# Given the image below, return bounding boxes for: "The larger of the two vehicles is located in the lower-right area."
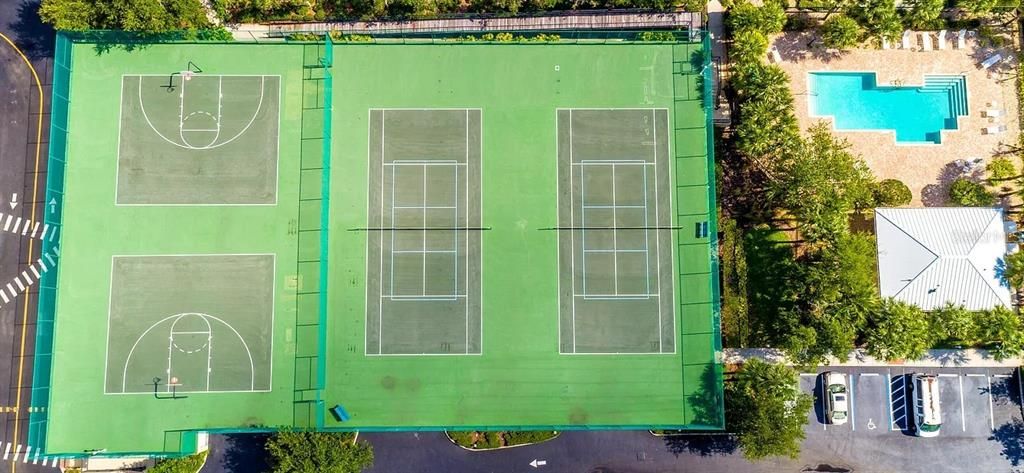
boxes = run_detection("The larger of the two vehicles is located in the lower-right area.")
[907,372,945,440]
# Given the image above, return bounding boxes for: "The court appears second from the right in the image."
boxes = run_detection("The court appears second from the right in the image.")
[365,108,482,356]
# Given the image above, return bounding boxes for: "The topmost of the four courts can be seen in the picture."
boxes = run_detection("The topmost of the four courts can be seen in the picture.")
[115,75,281,205]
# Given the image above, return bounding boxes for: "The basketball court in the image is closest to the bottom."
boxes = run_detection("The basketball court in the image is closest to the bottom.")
[104,254,276,394]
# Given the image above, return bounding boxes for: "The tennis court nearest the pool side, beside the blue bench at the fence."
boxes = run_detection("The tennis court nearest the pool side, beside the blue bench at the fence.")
[556,108,676,354]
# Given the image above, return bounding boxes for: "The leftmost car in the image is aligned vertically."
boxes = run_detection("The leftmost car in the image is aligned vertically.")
[822,371,849,425]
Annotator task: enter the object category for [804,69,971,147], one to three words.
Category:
swimming pool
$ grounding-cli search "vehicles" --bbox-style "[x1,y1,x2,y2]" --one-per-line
[822,371,849,425]
[907,372,945,440]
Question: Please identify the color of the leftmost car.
white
